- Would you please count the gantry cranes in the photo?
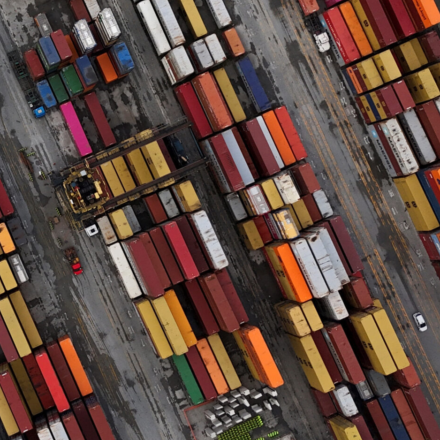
1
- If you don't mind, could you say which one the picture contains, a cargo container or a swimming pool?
cargo container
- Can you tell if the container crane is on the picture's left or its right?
left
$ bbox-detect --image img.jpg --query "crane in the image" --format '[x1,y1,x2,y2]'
[43,115,209,226]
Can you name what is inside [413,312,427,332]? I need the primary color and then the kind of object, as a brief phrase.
white car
